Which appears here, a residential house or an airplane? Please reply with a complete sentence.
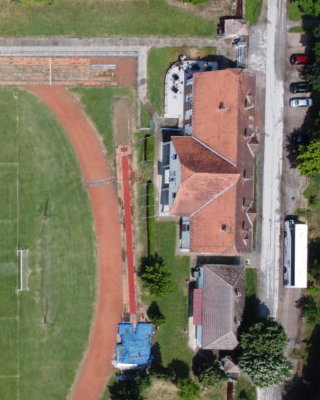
Of the two, only a residential house appears.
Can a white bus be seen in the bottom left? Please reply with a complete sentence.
No, no white bus is visible in the bottom left.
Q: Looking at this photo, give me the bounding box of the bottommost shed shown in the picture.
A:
[214,355,240,376]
